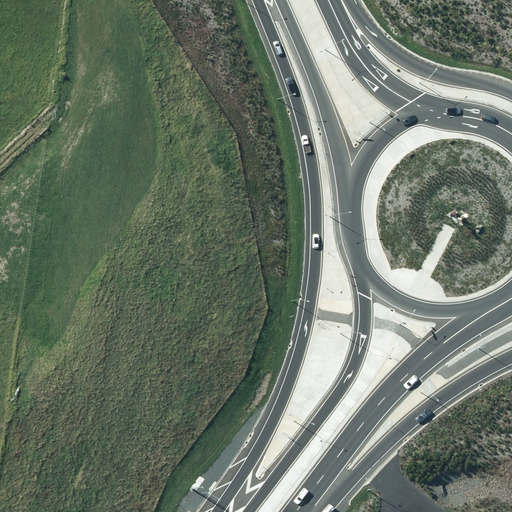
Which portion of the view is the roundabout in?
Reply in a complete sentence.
The roundabout sits in the right section of the image.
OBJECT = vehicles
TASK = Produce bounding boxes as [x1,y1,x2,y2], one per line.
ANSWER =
[482,114,498,124]
[313,234,320,249]
[404,115,420,126]
[288,78,298,94]
[294,488,309,504]
[417,410,434,424]
[404,376,419,388]
[274,41,284,56]
[321,504,332,512]
[302,135,312,154]
[447,108,462,115]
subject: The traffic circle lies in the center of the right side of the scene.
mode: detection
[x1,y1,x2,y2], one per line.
[334,93,512,322]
